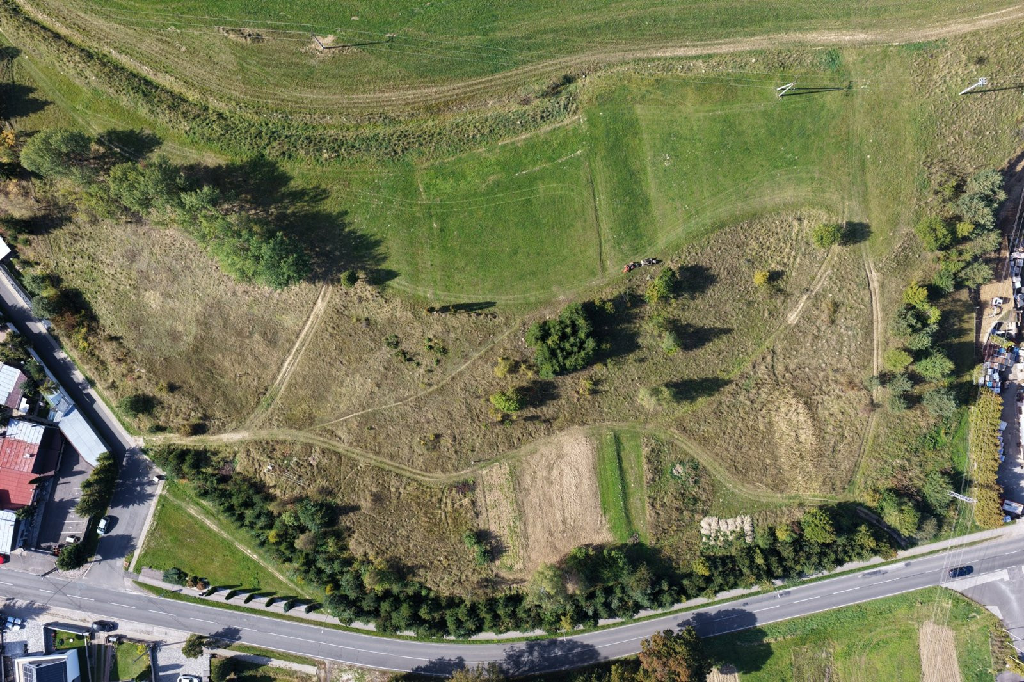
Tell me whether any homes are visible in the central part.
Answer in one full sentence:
No, there is no home in the central part.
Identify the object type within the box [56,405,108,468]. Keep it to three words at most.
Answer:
shed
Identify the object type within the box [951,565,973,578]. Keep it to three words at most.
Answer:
vehicle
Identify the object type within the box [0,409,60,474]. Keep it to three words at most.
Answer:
house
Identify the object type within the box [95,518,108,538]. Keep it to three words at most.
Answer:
vehicle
